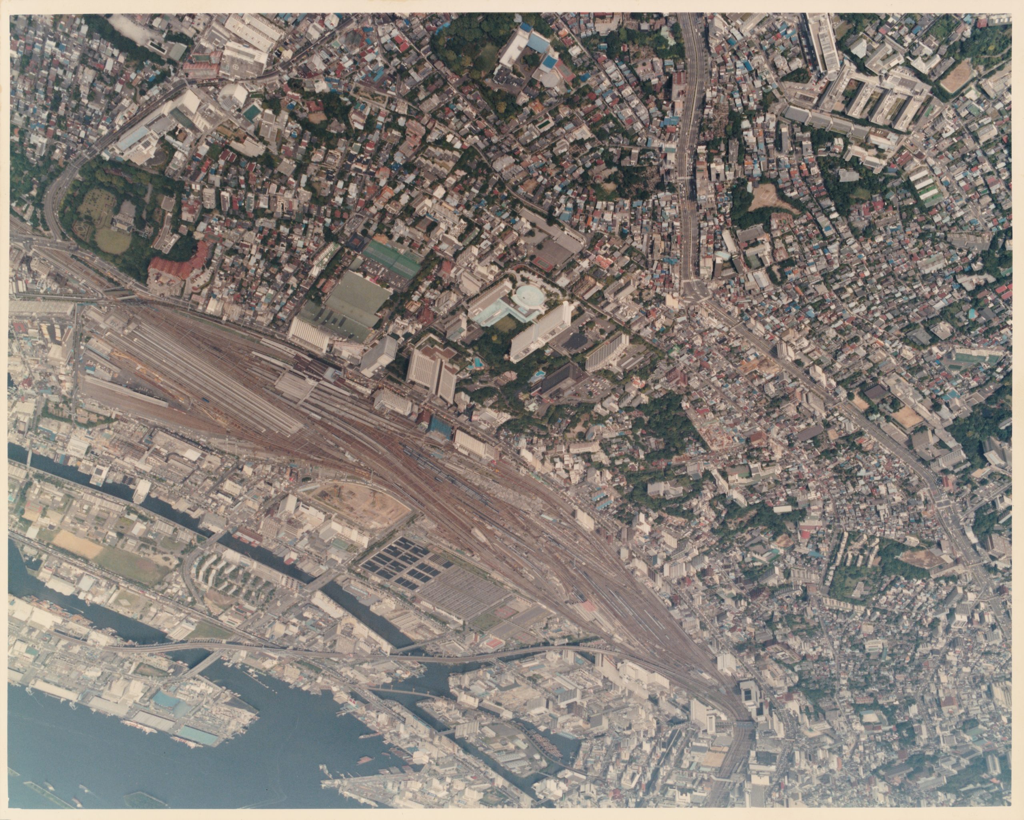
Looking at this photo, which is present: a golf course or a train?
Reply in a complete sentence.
Looking from above, you can make out a train.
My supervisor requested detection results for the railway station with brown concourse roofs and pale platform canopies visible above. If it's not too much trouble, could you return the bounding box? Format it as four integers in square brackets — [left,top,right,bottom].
[247,338,376,428]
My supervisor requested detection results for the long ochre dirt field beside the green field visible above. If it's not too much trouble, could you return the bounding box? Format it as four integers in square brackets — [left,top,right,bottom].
[53,531,103,558]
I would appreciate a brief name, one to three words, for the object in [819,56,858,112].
building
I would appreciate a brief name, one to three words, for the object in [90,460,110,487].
building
